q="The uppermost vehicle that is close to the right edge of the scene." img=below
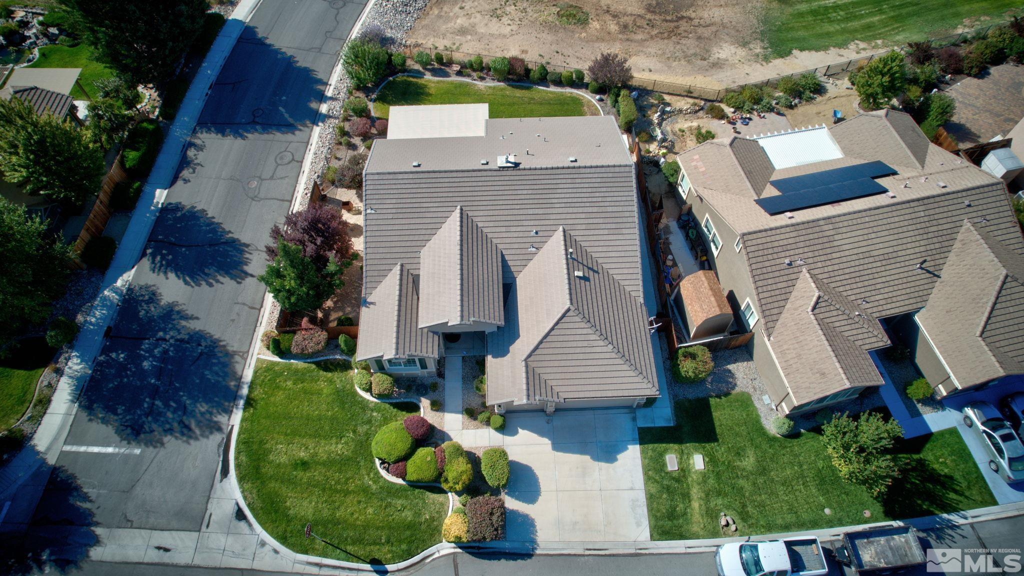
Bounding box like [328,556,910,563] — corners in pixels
[1000,380,1024,432]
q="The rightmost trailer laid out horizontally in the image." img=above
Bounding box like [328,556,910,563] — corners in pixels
[821,524,926,576]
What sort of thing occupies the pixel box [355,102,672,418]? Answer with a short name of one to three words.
house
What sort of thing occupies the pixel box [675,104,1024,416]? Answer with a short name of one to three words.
house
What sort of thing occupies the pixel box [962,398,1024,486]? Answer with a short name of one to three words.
car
